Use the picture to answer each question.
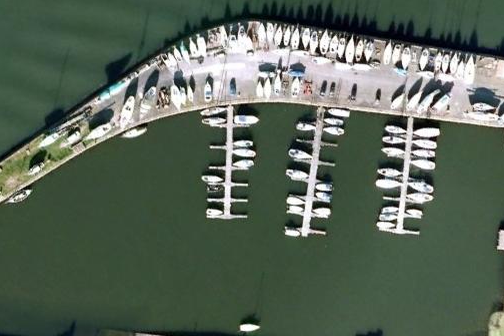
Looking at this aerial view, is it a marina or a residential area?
marina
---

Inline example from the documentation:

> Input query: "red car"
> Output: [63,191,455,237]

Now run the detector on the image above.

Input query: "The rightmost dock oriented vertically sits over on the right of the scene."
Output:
[379,114,428,234]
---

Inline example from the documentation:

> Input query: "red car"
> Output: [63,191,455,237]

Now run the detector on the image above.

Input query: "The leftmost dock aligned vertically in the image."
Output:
[206,105,250,220]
